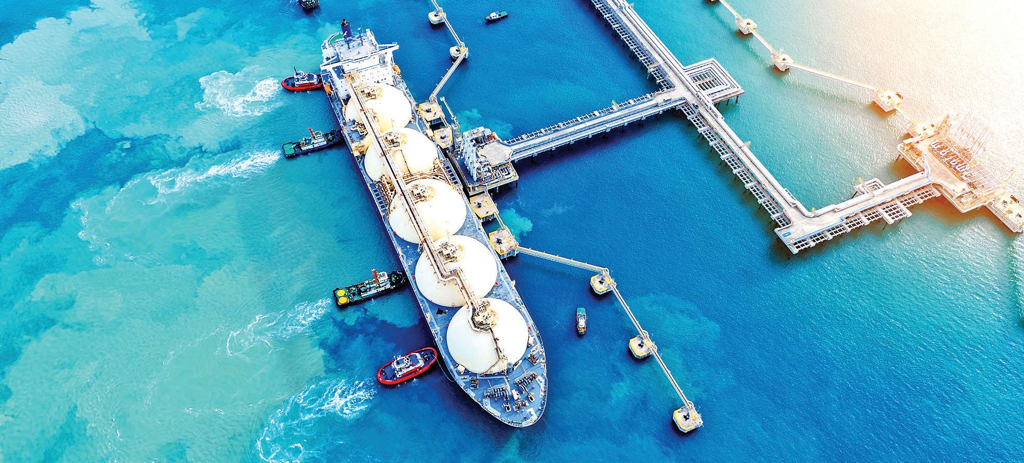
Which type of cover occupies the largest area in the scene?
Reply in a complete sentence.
What you mostly see from above here is water.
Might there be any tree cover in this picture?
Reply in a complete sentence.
No, no tree cover is visible.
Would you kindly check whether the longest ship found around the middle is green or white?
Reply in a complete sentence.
The color of the longest ship found around the middle is white.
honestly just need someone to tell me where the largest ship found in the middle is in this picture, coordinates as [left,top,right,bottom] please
[314,16,548,428]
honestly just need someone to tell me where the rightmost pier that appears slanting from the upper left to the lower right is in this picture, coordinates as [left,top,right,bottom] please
[586,0,824,255]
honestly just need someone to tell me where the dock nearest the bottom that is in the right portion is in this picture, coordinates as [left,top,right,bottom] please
[771,167,940,265]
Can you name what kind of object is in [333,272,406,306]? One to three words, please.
boat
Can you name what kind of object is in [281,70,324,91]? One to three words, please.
boat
